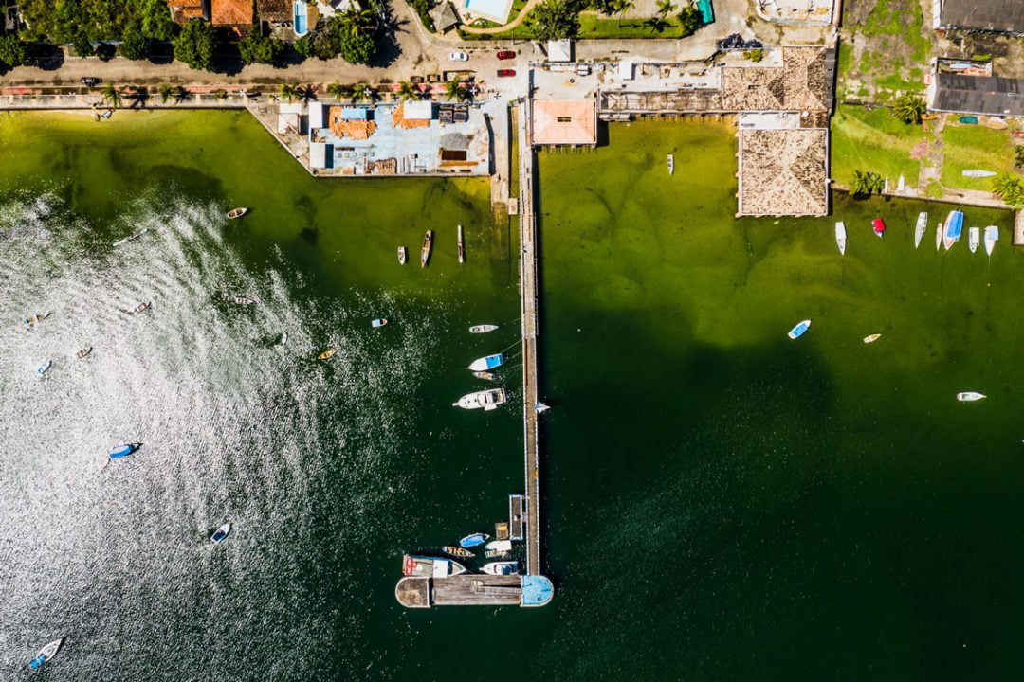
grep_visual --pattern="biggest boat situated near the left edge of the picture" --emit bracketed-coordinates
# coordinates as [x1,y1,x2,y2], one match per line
[25,638,64,672]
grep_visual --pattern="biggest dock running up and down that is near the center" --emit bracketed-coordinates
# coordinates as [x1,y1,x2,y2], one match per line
[518,101,540,577]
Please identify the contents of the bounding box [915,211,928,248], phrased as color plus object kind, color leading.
white boat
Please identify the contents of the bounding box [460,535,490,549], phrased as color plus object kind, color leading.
blue boat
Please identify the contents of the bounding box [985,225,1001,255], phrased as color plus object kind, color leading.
white boat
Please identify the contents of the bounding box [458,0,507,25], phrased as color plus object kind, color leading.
white swimming pool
